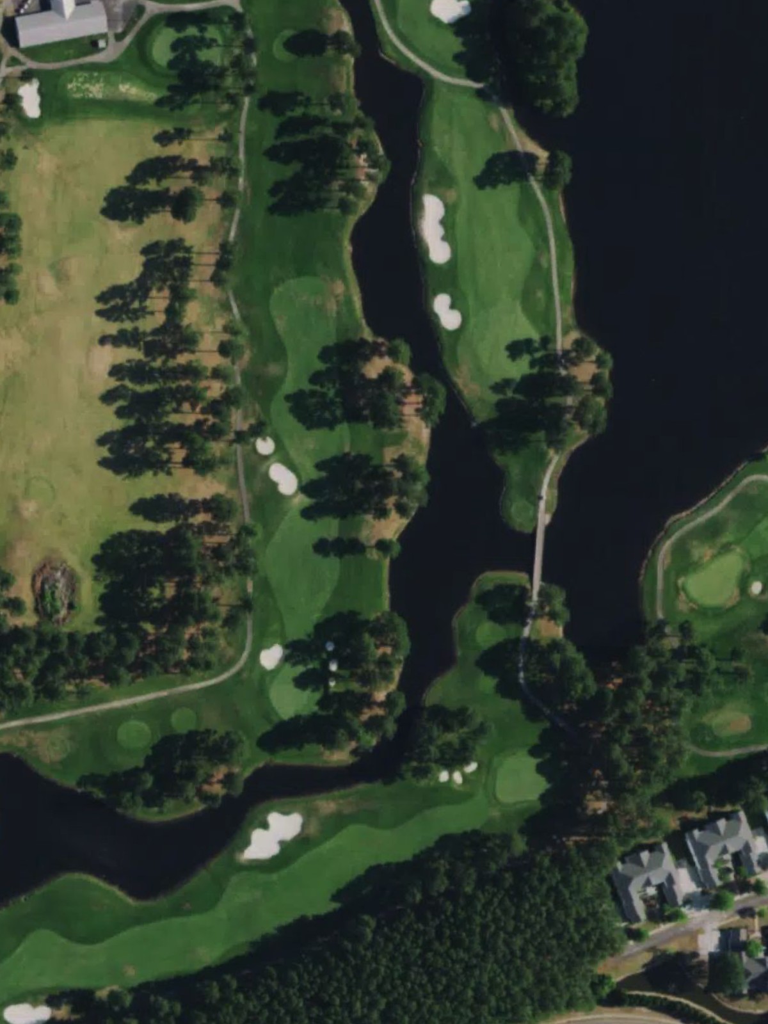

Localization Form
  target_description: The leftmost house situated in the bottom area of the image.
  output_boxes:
[614,845,687,924]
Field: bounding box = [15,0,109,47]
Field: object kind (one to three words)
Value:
building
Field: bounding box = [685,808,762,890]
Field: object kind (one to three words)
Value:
house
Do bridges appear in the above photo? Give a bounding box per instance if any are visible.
[530,493,547,608]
